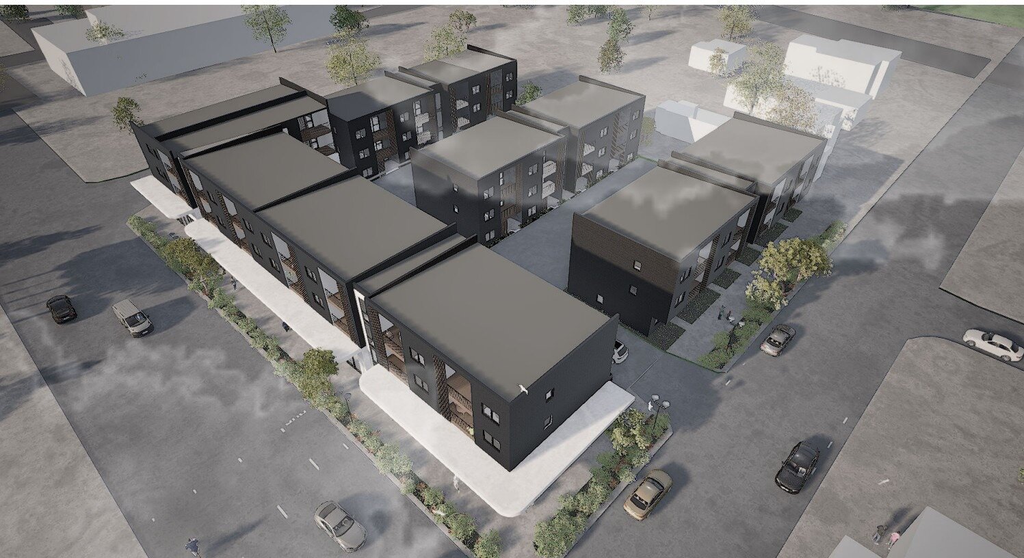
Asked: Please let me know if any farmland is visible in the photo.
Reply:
No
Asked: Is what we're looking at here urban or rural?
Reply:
urban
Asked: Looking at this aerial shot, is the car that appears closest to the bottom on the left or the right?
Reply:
left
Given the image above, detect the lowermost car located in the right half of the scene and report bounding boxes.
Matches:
[624,472,670,522]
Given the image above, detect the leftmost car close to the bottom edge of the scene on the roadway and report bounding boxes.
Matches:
[316,502,365,557]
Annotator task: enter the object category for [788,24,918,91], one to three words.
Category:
building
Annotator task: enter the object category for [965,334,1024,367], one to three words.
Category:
car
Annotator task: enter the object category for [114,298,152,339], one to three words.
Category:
van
